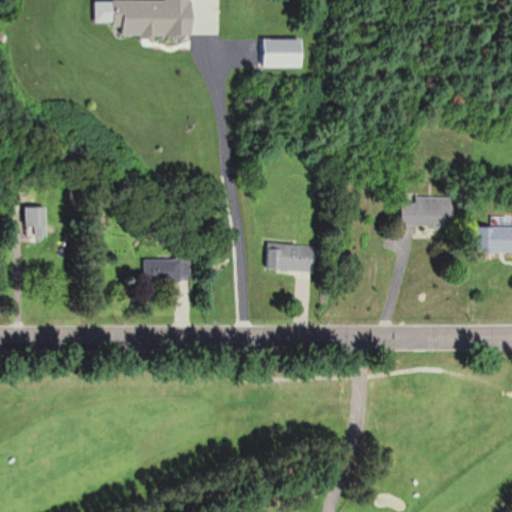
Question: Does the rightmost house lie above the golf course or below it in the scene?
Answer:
above it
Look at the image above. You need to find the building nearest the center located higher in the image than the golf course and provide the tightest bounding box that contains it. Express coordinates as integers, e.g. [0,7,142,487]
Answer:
[266,242,314,272]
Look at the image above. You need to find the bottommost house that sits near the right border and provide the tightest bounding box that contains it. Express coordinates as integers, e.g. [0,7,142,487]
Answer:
[480,227,512,261]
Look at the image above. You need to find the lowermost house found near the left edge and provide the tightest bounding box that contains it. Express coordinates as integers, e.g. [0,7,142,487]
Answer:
[24,207,47,242]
